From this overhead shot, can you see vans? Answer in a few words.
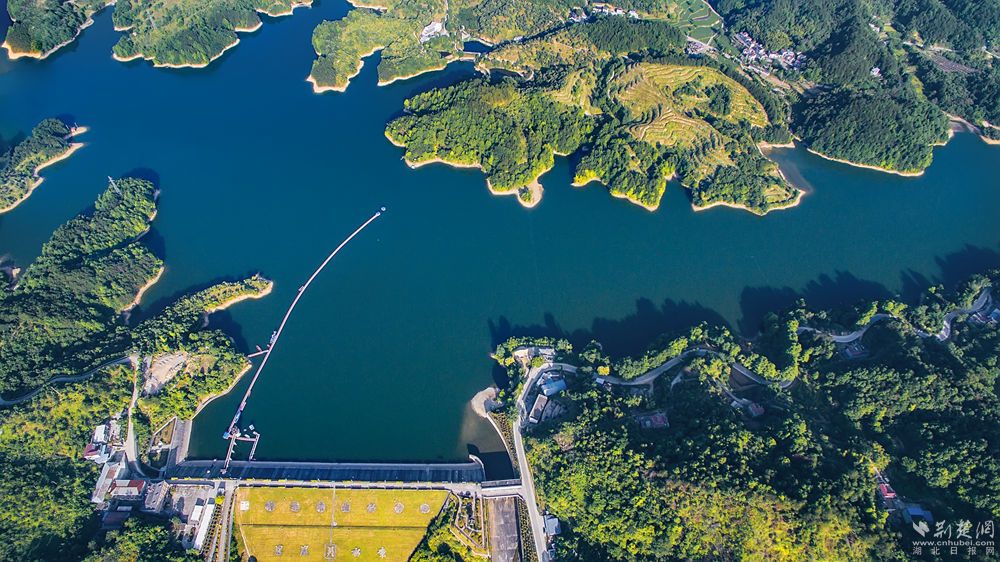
No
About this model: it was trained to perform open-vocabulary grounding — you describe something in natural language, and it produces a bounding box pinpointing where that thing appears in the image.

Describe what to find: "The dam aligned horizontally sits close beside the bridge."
[169,460,484,562]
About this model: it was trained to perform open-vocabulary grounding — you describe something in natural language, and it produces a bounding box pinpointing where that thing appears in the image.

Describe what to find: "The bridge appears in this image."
[481,479,524,498]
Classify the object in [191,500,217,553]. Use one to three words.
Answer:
shed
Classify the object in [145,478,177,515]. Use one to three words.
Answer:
building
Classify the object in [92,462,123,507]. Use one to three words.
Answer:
building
